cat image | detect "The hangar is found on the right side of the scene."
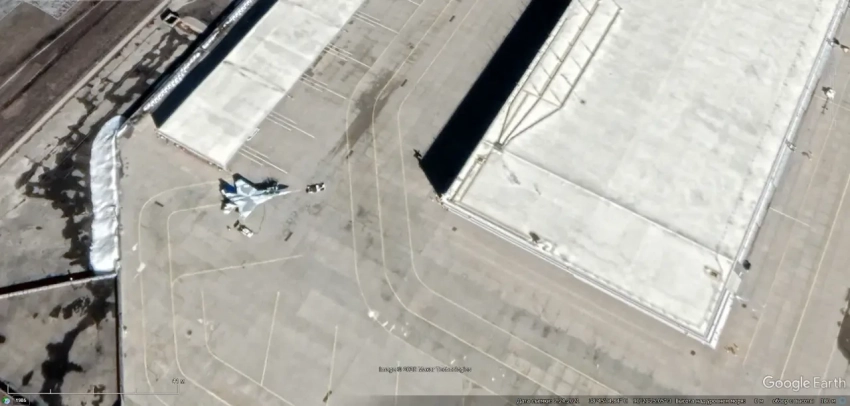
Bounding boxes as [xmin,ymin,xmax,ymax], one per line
[446,0,850,345]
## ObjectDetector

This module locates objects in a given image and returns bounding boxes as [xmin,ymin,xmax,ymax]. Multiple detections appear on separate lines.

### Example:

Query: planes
[221,180,293,220]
